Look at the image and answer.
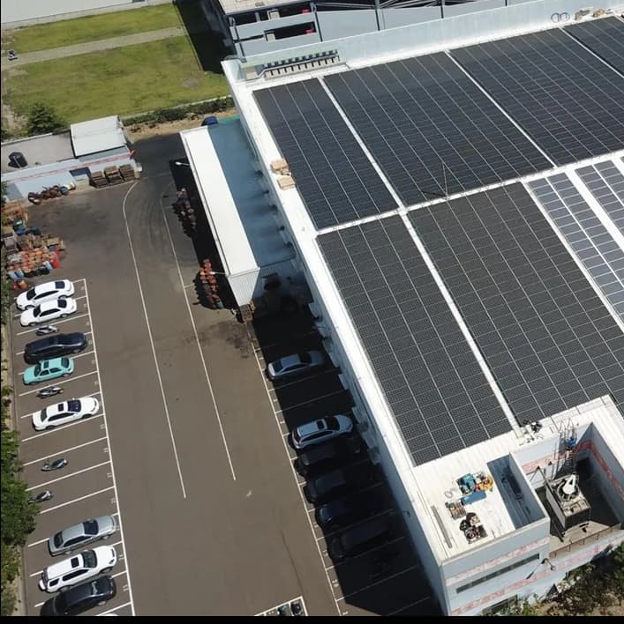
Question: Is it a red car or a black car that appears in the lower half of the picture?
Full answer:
The one visible in the lower half of the picture is a black car.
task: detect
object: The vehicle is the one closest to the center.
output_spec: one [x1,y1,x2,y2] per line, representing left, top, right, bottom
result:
[266,350,326,383]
